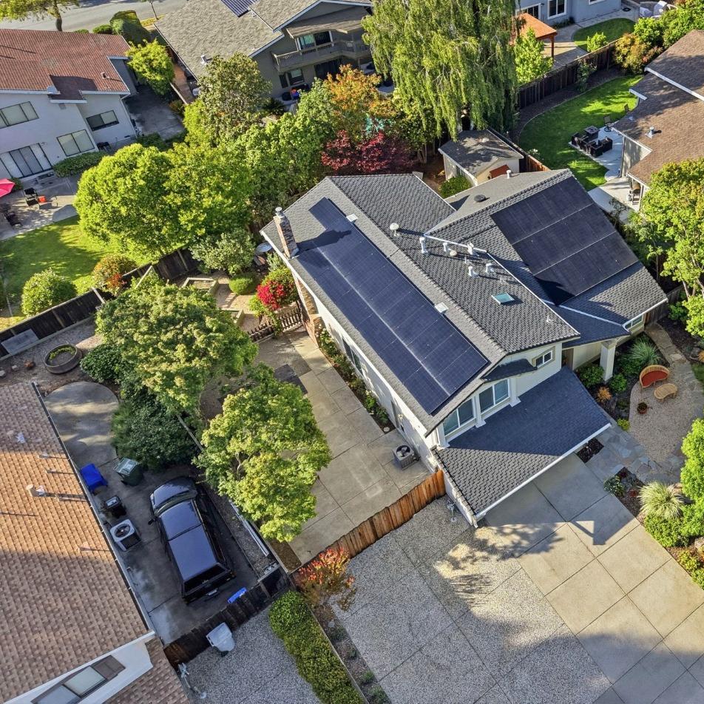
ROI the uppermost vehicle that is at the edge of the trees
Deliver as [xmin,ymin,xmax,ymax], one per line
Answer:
[133,478,232,601]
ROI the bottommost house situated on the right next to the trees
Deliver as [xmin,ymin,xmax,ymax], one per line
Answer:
[260,165,671,527]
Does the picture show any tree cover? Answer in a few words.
Yes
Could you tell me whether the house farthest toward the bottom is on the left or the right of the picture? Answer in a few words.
left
